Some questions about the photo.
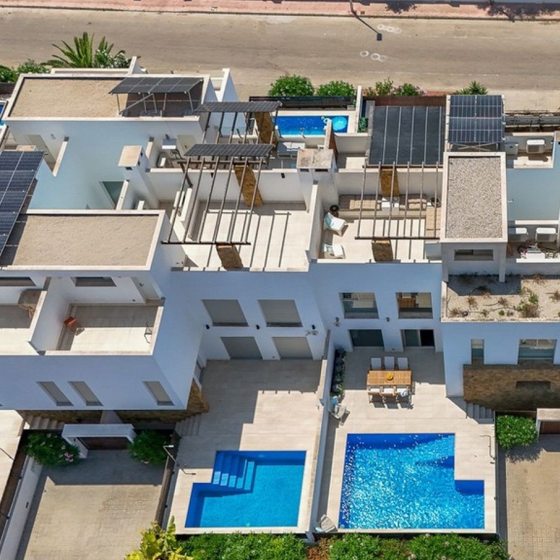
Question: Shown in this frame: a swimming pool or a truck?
swimming pool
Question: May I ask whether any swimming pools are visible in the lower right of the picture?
Yes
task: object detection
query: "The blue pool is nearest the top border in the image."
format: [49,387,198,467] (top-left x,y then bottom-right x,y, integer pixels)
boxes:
[271,115,351,136]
